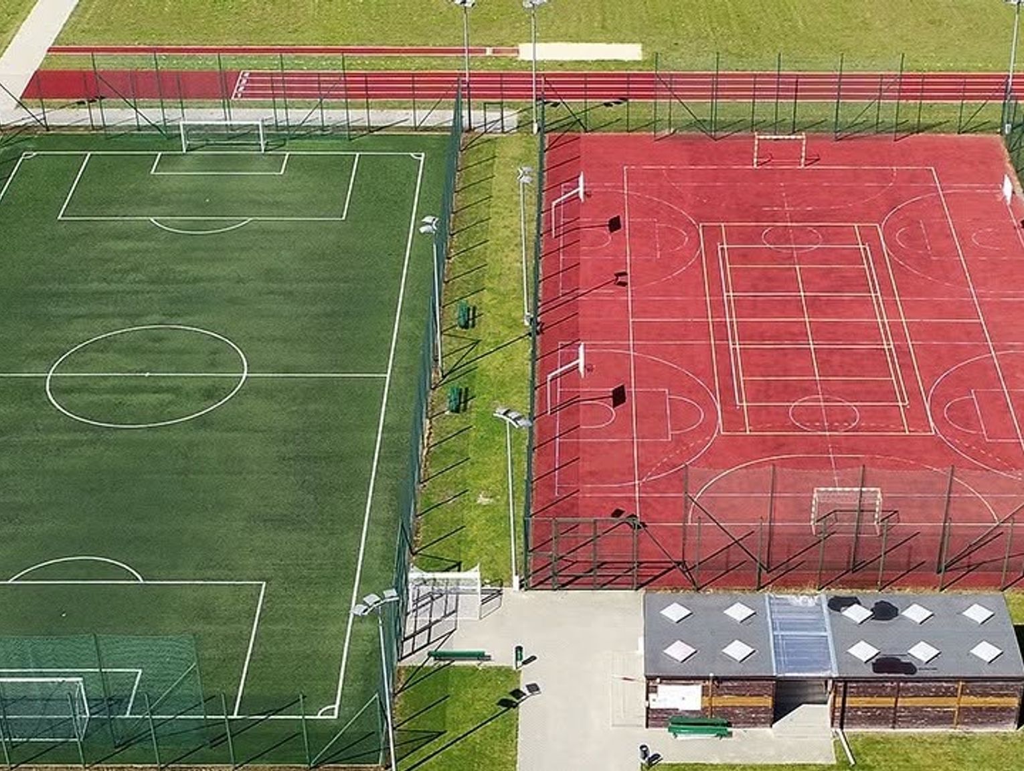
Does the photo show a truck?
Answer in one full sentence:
No, I find no truck anywhere in the image.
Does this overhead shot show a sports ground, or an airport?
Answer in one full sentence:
This looks like a sports ground.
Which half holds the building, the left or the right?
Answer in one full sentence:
It is on the right.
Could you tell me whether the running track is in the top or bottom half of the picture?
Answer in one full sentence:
Seen from above, the running track lies in the top half of the view.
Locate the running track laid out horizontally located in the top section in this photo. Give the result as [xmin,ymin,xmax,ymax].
[20,70,1024,101]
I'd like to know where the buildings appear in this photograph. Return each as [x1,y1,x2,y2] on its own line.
[638,590,1024,727]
